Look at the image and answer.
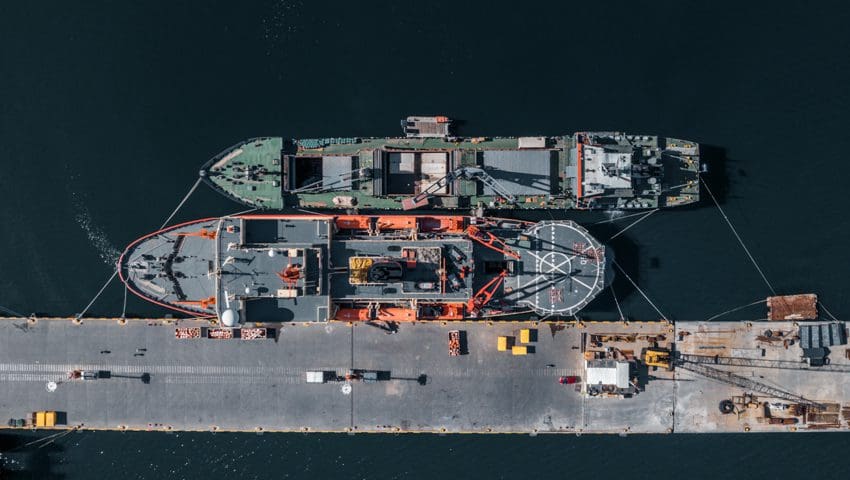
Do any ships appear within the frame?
Yes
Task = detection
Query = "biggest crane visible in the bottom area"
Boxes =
[639,345,830,409]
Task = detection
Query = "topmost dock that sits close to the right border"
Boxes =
[765,294,817,321]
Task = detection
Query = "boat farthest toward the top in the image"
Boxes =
[401,115,450,138]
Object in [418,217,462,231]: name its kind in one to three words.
boat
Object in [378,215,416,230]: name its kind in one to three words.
boat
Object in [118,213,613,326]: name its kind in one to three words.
ship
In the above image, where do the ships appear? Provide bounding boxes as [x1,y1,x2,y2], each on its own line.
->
[118,213,613,326]
[200,132,707,210]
